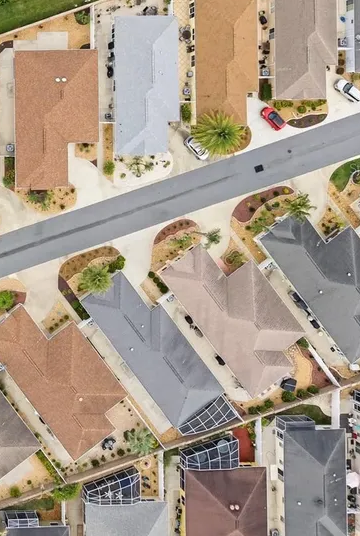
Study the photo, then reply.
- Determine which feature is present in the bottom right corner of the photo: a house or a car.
house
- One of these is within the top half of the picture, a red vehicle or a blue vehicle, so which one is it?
red vehicle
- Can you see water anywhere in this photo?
No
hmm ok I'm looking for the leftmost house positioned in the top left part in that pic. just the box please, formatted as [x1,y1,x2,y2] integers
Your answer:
[14,49,99,188]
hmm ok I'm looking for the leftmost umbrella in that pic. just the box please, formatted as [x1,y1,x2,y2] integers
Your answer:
[279,377,298,392]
